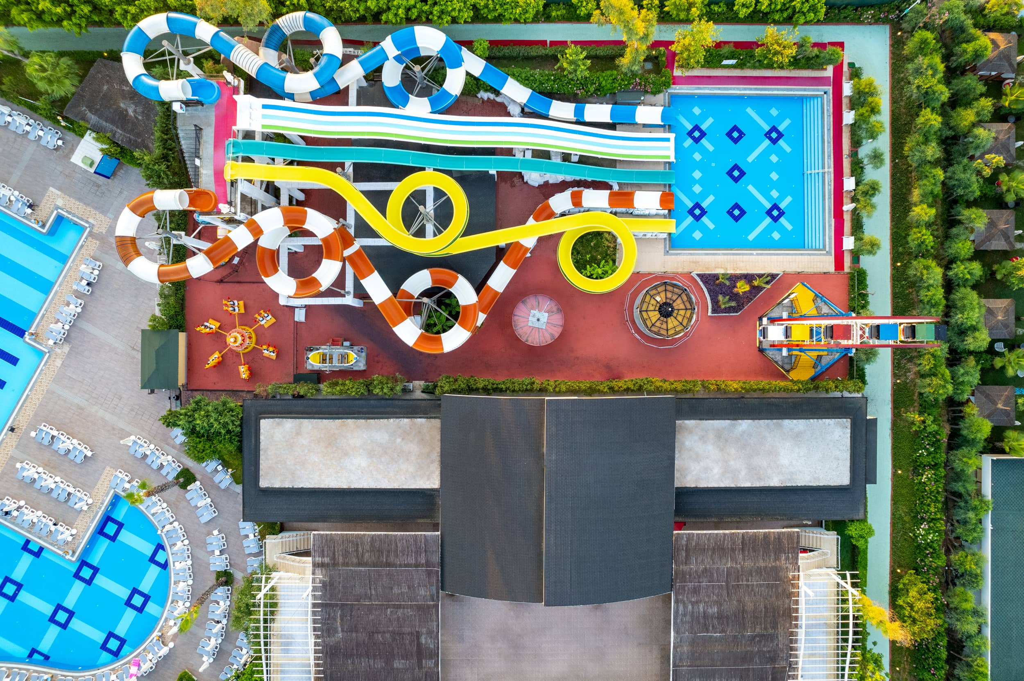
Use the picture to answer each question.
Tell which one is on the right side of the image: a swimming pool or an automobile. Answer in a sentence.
You can see a swimming pool on the right side of the image.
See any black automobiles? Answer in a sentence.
No, there appears to be no black automobile in this shot.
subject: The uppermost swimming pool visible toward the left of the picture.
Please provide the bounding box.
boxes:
[0,212,84,430]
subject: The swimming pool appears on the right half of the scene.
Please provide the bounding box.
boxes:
[671,94,823,249]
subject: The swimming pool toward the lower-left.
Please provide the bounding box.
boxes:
[0,493,171,671]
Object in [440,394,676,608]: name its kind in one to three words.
building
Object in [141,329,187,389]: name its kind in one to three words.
shed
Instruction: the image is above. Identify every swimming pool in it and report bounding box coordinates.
[0,493,171,671]
[0,212,84,430]
[671,94,823,249]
